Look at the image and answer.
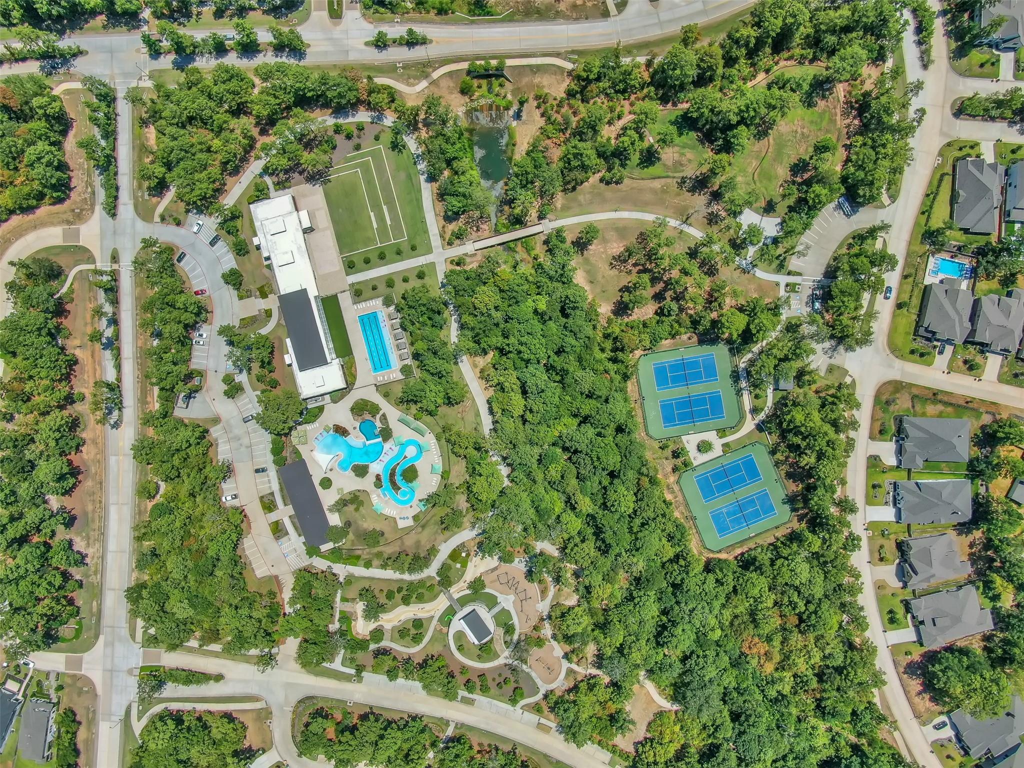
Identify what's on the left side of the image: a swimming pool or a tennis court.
swimming pool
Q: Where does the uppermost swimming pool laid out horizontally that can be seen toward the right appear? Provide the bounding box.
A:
[928,257,971,278]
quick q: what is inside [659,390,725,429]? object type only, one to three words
tennis court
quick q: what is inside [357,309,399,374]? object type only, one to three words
swimming pool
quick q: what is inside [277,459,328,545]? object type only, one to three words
building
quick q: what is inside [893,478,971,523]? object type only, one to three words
house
